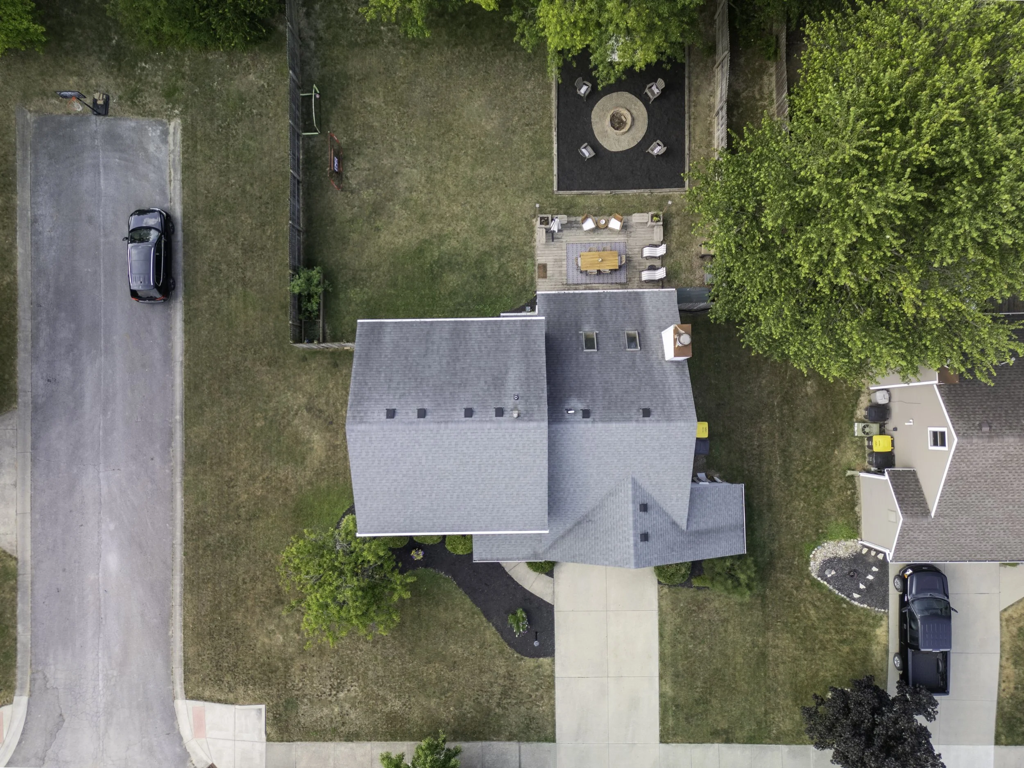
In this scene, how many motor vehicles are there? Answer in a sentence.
The photo contains 2 motor vehicles.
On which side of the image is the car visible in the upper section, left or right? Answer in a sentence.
It is on the left.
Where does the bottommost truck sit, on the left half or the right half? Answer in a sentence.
The bottommost truck appears in the right half of the scene.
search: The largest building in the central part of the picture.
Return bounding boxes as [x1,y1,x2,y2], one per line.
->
[346,287,748,568]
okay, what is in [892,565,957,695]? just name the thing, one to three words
truck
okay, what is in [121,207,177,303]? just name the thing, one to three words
car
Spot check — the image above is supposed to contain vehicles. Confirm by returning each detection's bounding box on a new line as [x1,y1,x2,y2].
[121,207,177,303]
[892,565,957,695]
